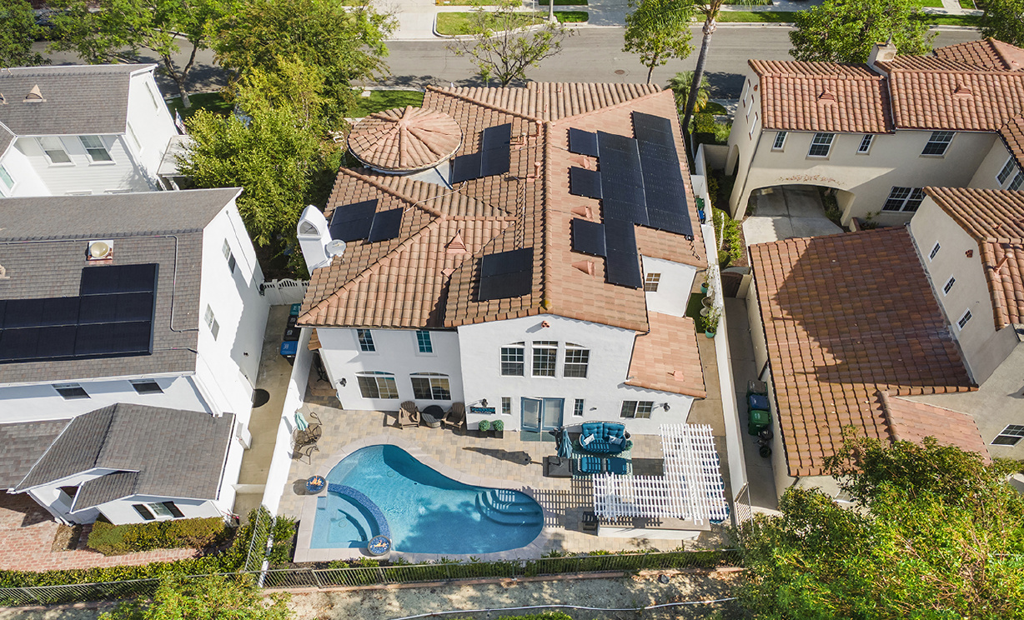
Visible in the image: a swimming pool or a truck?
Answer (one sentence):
This aerial view contains a swimming pool.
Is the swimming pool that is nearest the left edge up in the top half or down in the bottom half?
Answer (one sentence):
The swimming pool that is nearest the left edge sits in the bottom half of the picture.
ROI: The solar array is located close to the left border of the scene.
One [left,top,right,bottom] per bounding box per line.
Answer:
[0,263,161,371]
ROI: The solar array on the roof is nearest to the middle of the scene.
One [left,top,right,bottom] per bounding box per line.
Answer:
[476,245,532,304]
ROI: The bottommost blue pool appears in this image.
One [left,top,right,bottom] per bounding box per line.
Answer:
[310,443,543,552]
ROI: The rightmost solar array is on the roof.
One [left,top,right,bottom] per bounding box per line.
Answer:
[571,109,695,290]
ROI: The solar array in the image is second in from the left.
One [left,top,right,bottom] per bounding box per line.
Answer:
[329,194,406,242]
